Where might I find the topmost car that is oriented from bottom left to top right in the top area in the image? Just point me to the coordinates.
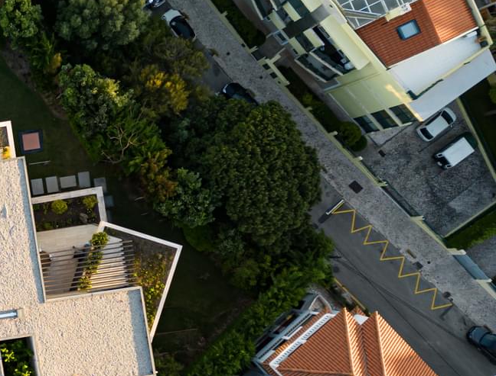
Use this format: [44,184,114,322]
[410,106,459,143]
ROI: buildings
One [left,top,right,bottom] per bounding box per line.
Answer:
[0,122,157,376]
[247,298,437,376]
[244,0,496,130]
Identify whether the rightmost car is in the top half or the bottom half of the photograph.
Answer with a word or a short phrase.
bottom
